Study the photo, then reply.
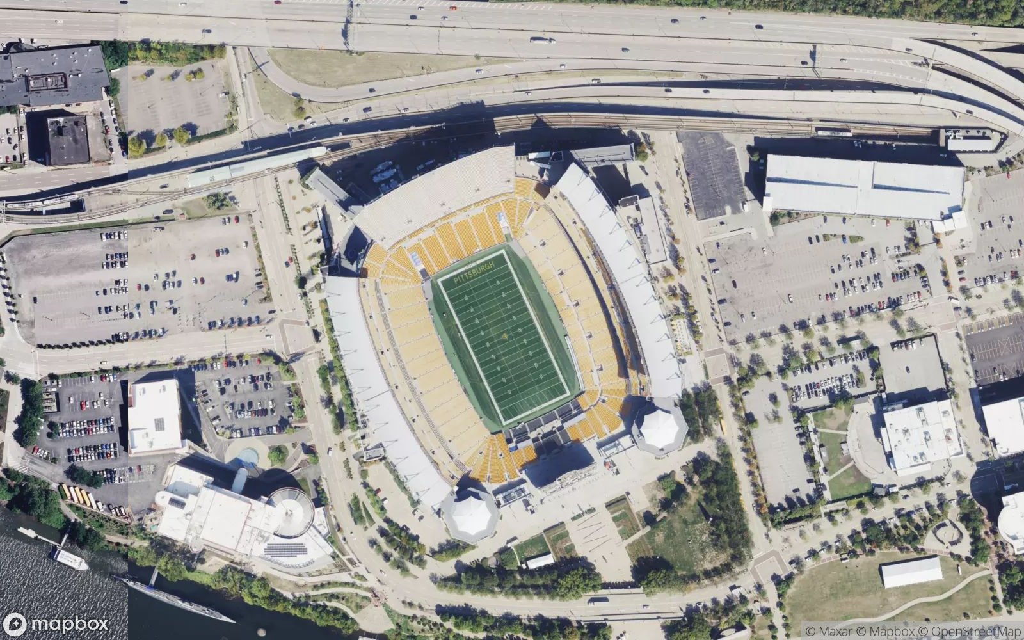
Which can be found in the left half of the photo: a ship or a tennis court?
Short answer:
ship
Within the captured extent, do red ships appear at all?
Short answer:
No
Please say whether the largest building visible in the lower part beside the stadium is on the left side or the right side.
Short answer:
left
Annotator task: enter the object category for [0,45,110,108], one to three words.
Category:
building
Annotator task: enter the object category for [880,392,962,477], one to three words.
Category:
building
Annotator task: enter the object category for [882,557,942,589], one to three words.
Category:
tent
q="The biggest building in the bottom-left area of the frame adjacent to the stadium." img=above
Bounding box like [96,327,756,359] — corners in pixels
[155,465,334,571]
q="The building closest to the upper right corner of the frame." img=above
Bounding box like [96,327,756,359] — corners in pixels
[947,139,992,151]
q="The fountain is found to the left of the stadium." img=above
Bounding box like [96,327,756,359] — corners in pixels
[234,445,257,468]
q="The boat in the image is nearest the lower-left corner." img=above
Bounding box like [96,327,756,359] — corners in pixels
[48,546,88,570]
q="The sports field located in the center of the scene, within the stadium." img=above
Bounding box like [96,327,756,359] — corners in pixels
[422,240,583,433]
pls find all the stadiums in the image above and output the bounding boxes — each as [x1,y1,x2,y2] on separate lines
[300,145,689,543]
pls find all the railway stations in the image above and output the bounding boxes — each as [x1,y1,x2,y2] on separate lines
[86,147,328,209]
